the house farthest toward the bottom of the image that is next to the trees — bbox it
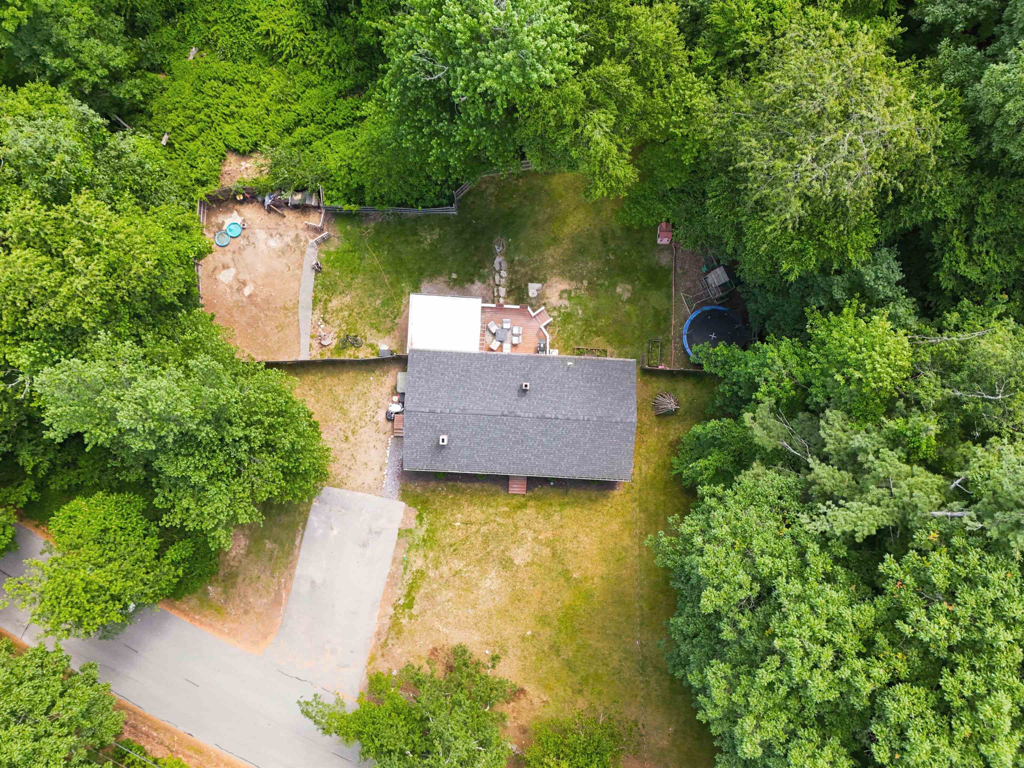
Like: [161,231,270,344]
[403,347,636,482]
